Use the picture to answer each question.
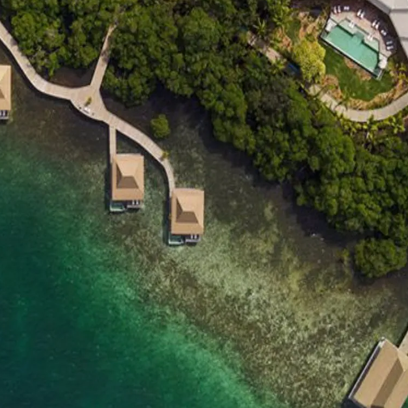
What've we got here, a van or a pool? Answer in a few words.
pool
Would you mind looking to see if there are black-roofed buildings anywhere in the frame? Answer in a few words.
No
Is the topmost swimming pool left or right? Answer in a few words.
right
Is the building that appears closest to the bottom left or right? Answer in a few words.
right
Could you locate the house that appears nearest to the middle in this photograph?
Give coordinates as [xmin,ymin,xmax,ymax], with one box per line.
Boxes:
[168,189,204,242]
